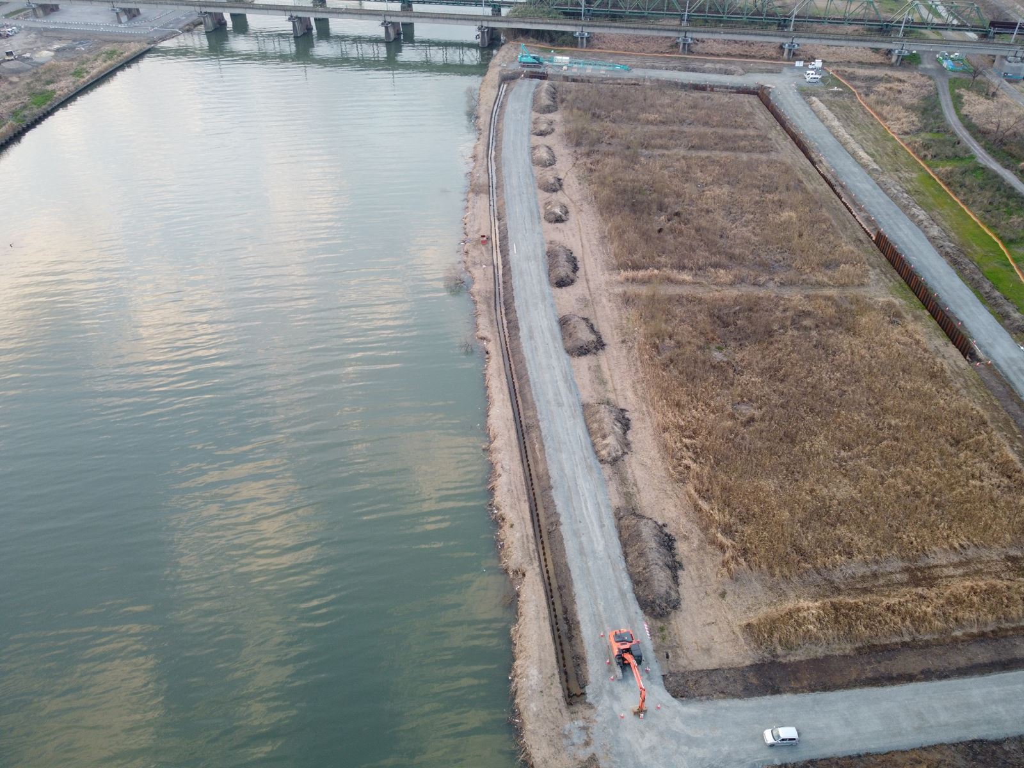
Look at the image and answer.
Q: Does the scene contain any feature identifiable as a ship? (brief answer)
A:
No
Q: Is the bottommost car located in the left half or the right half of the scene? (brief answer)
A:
right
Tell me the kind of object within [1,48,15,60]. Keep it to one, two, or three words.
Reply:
vehicle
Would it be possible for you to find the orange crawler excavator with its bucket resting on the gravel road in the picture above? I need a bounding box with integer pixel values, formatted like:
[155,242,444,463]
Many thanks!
[608,624,651,713]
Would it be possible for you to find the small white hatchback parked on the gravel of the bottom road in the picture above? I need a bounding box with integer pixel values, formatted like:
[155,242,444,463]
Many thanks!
[762,725,806,750]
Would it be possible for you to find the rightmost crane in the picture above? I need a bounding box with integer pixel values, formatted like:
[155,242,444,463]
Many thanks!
[520,40,633,70]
